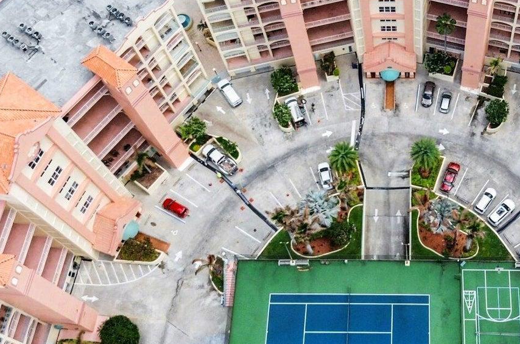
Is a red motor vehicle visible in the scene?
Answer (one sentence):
Yes, the photo shows a red motor vehicle.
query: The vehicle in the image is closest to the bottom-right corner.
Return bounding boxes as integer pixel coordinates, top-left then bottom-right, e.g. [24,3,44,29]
[489,199,515,228]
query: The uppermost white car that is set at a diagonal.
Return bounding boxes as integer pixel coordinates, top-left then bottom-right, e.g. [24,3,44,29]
[217,79,243,107]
